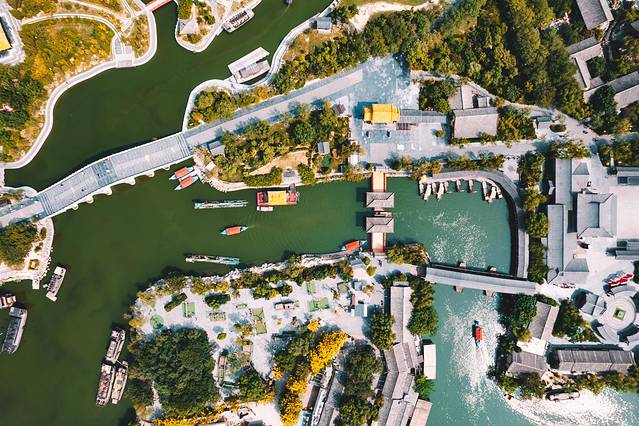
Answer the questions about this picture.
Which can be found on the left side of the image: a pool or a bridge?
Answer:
bridge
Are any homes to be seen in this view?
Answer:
Yes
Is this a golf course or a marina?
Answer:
marina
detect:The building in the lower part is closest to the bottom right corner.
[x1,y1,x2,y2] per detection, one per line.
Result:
[557,348,638,375]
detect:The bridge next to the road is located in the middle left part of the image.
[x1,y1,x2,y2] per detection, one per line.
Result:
[36,130,197,217]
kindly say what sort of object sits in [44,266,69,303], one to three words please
boat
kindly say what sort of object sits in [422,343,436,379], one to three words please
pier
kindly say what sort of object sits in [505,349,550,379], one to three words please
house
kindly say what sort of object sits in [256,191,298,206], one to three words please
vessel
